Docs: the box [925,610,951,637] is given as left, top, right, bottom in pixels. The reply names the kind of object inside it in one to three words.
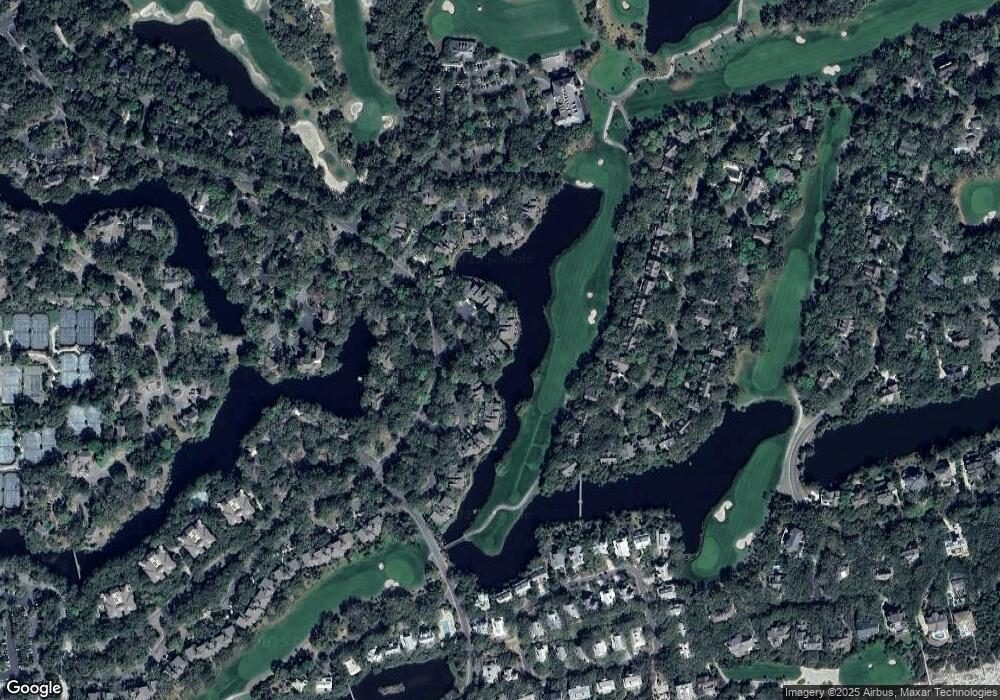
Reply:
house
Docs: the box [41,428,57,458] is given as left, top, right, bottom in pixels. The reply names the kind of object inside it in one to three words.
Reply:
tennis court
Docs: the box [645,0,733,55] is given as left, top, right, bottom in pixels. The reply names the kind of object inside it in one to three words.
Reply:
pond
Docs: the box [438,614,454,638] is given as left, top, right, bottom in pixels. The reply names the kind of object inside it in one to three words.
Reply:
swimming pool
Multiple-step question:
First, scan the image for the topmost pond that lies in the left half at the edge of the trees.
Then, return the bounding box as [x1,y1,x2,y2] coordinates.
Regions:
[131,20,280,116]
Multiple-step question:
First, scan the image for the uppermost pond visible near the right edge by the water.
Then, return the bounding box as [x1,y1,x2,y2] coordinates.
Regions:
[804,391,1000,484]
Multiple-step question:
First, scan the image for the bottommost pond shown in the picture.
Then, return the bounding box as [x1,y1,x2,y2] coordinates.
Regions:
[344,658,458,700]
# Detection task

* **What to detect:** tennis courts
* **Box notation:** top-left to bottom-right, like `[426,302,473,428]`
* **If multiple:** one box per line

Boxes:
[84,404,100,433]
[13,312,30,350]
[78,351,94,385]
[0,429,16,464]
[22,366,42,401]
[59,309,76,345]
[41,428,57,458]
[3,472,21,509]
[61,352,78,390]
[76,309,95,345]
[67,404,84,434]
[21,430,40,461]
[2,365,21,403]
[30,312,48,350]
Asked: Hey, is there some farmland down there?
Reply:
No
